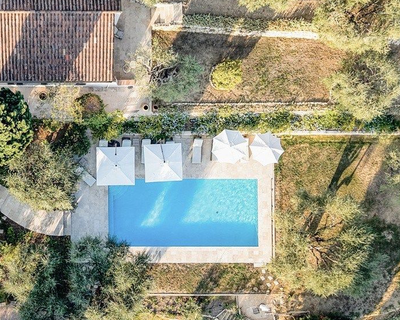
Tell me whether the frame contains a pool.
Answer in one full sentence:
Yes, the picture does show a pool.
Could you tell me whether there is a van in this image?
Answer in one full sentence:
No, I find no van anywhere in the image.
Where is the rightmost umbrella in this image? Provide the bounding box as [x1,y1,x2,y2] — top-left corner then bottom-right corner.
[250,130,284,165]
